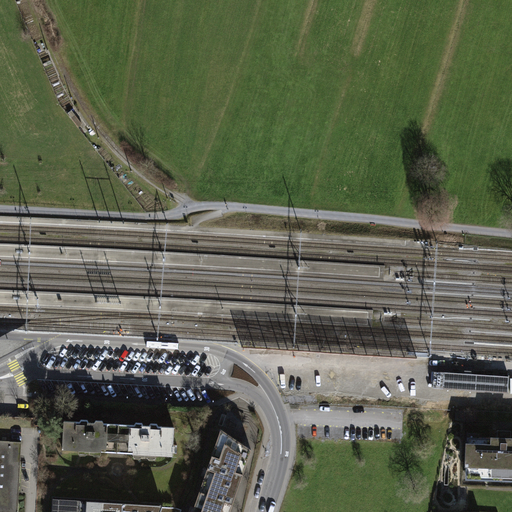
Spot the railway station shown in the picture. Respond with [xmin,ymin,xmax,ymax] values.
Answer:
[0,216,406,324]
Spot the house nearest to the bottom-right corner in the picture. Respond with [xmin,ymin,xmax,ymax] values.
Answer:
[464,436,512,482]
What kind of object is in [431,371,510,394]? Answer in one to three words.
shed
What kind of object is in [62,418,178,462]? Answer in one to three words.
building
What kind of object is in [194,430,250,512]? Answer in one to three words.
building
